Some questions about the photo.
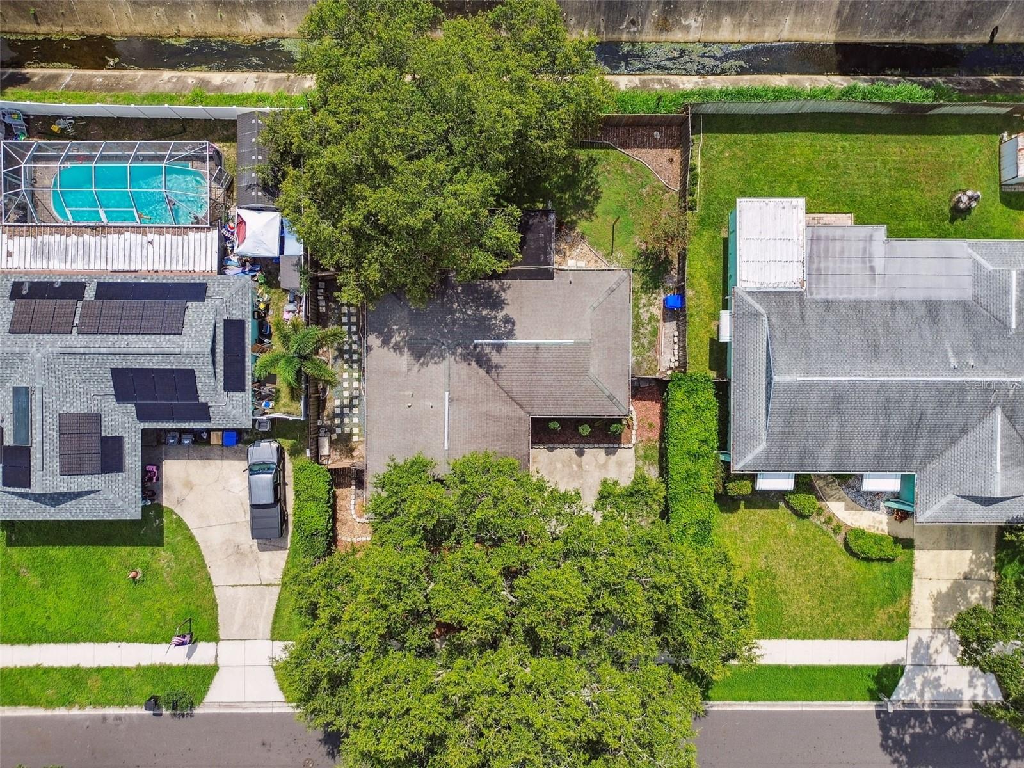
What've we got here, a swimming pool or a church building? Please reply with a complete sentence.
Looking from above, you can make out a swimming pool.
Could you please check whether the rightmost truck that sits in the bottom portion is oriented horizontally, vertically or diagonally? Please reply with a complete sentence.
What the image shows is the rightmost truck that sits in the bottom portion lying vertically.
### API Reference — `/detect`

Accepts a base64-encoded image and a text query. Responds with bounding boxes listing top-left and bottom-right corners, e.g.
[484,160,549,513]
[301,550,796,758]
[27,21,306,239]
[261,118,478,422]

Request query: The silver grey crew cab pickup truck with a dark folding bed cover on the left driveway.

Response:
[242,437,288,539]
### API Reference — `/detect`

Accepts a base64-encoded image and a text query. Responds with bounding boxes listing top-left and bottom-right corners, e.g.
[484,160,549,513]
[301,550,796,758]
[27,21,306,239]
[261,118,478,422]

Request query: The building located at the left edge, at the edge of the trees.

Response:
[0,274,260,521]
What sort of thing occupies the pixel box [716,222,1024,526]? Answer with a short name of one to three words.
house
